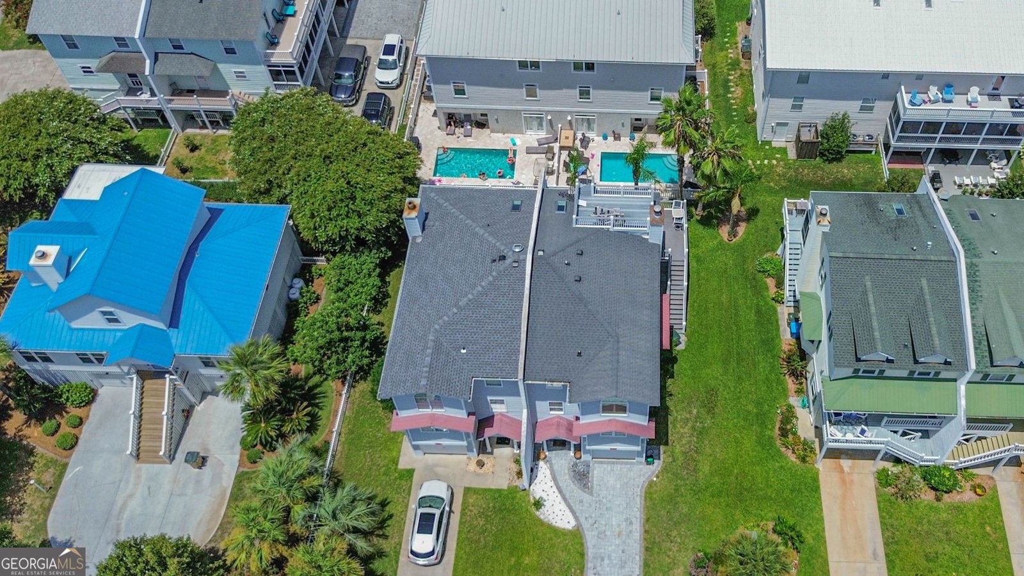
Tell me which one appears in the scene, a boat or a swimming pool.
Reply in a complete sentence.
This aerial view contains a swimming pool.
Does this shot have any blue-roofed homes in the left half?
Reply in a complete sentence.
Yes, a blue-roofed home shows up in the left half.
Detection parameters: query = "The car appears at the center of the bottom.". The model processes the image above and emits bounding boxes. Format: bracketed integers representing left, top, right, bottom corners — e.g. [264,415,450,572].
[410,480,457,566]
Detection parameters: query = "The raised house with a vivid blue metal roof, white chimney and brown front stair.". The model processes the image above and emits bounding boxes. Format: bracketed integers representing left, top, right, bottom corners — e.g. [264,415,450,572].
[0,164,303,464]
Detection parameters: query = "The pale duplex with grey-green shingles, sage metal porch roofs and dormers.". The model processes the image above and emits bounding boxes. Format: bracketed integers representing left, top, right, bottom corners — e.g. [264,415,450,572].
[777,178,1024,471]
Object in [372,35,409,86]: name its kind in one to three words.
car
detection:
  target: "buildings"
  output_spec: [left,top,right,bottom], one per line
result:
[413,0,699,134]
[777,178,1024,471]
[24,0,348,135]
[755,0,1024,170]
[0,164,303,464]
[378,160,690,487]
